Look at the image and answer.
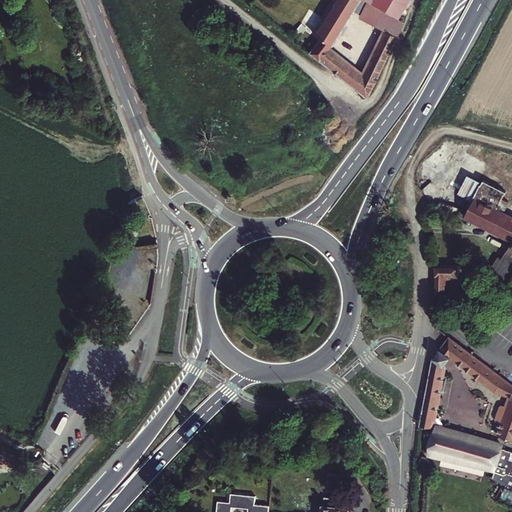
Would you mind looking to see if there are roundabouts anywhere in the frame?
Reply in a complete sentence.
Yes, the image includes a roundabout.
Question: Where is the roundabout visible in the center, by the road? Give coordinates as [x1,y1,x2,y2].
[196,217,361,383]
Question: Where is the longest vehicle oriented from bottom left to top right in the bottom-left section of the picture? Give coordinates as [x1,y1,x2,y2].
[52,414,70,437]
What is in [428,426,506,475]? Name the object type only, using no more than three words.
building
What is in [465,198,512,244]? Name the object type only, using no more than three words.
house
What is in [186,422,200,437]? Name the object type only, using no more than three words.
vehicle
